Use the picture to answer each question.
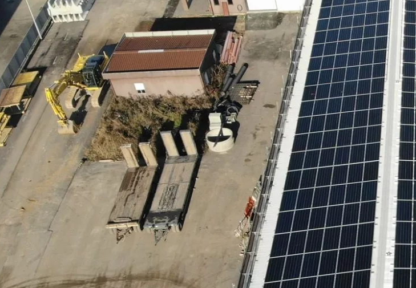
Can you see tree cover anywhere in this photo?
No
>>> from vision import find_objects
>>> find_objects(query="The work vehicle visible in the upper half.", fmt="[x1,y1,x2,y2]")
[45,60,112,129]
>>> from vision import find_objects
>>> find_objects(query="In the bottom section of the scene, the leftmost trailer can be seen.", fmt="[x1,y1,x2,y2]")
[95,143,162,249]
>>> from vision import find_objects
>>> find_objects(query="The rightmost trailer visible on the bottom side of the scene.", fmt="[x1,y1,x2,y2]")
[133,133,201,251]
